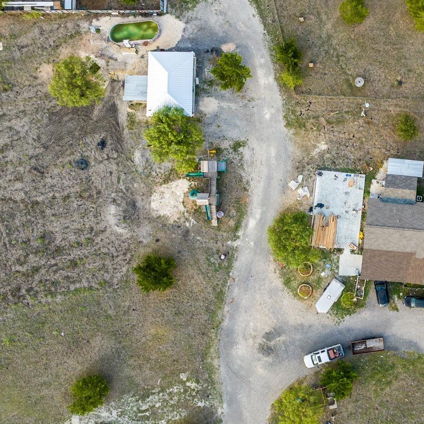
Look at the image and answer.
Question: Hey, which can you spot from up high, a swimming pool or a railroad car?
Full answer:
The image shows a swimming pool.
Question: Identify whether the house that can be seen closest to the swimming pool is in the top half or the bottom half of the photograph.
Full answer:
Seen from above, the house that can be seen closest to the swimming pool lies in the top half of the view.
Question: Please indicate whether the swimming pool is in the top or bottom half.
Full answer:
The swimming pool sits in the top half of the picture.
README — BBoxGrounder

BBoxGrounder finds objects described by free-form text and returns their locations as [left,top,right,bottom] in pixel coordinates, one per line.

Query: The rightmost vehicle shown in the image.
[403,296,424,309]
